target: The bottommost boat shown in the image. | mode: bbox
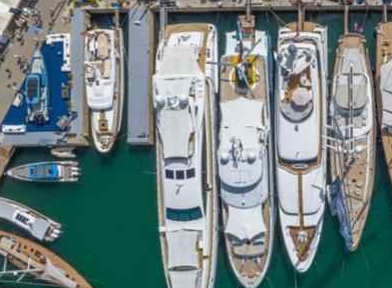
[0,226,100,288]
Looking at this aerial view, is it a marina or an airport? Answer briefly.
marina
